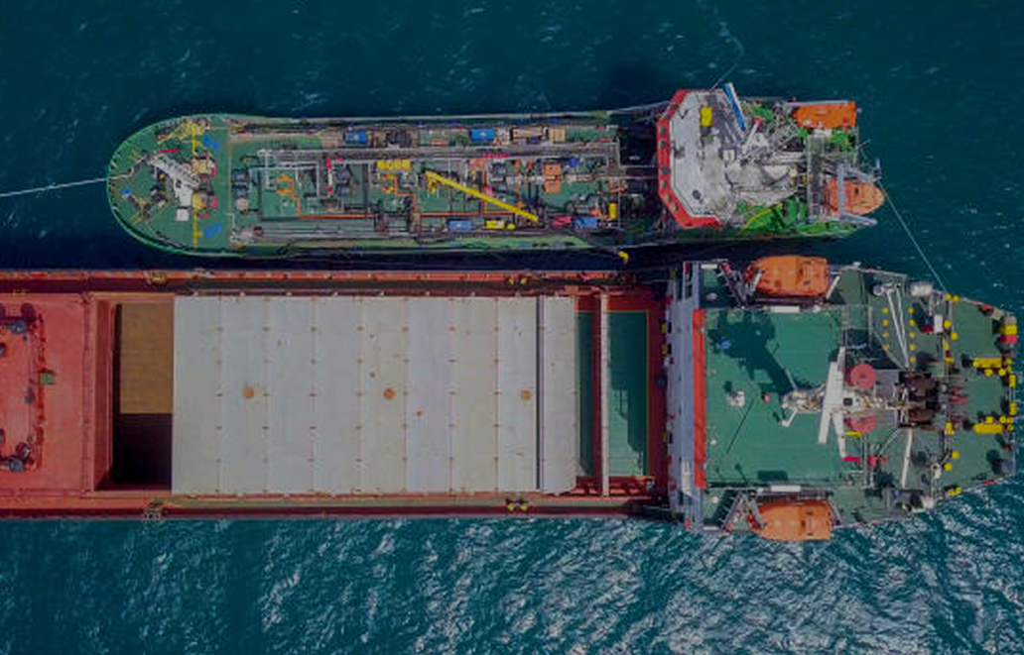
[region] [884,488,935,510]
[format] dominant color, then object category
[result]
gray boat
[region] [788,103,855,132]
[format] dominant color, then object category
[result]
orange boat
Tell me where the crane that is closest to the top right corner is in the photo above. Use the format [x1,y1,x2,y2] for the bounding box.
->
[866,283,911,365]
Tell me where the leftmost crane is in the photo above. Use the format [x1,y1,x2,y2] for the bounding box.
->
[423,172,538,222]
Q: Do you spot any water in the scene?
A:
Yes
